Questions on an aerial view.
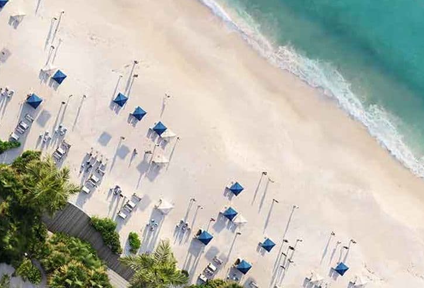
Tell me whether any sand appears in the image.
Yes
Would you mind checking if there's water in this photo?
Yes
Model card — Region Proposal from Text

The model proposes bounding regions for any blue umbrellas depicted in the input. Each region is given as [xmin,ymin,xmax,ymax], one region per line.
[26,93,42,108]
[259,236,275,253]
[221,204,237,221]
[228,181,243,196]
[235,258,251,275]
[196,229,213,245]
[333,261,349,277]
[52,68,67,85]
[152,121,167,137]
[111,93,128,108]
[131,105,146,121]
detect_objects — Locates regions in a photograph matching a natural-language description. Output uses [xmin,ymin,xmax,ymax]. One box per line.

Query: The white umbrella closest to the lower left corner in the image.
[155,197,172,215]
